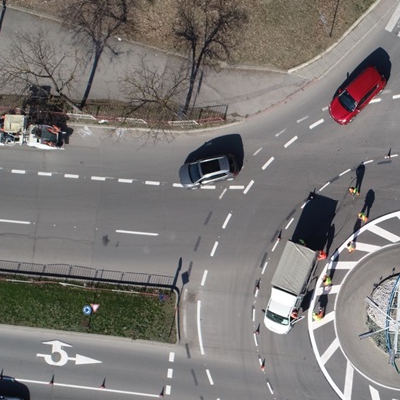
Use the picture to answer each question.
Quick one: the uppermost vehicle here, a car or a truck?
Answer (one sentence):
In the photo, the uppermost vehicle shows up as a car.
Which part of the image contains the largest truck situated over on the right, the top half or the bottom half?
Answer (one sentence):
The bottom half of the photo is where the largest truck situated over on the right is.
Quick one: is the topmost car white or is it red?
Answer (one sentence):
From above, the topmost car appears red.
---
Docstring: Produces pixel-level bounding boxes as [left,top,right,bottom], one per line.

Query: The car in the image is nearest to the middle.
[178,151,239,190]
